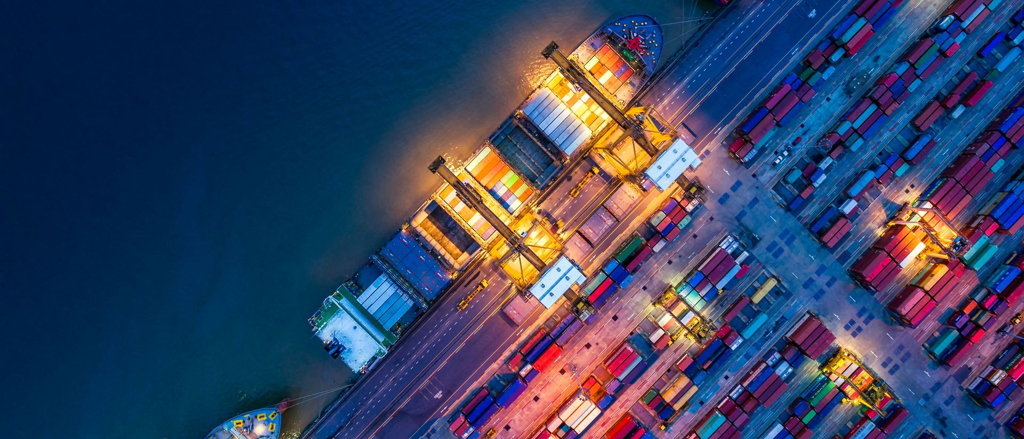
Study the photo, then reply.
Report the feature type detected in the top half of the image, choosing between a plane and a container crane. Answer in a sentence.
You can see a container crane in the top half of the image.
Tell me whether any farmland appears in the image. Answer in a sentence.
No, the scene doesn't show any farmland.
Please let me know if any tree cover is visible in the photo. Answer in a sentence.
No, tree cover can't be seen anywhere here.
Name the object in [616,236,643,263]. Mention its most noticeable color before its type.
green shipping container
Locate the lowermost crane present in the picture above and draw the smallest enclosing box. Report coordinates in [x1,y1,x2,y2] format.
[823,349,900,414]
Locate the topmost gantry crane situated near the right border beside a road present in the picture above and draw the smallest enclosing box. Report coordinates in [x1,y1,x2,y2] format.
[887,203,973,262]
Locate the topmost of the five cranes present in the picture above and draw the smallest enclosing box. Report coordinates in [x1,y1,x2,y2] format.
[541,34,720,208]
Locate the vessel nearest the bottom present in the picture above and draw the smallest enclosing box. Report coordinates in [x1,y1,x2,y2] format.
[205,398,292,439]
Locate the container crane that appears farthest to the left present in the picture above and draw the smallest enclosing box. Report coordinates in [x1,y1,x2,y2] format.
[424,152,604,327]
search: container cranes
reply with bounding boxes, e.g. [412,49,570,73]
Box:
[823,349,900,414]
[887,203,973,262]
[541,34,720,208]
[424,152,604,327]
[653,289,720,349]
